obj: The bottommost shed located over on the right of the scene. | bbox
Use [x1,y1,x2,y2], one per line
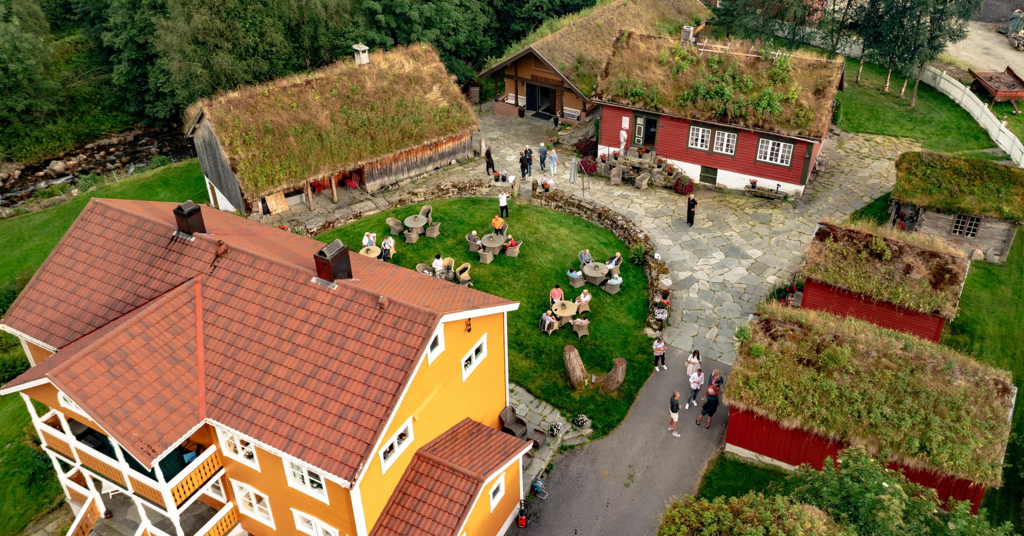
[723,309,1021,516]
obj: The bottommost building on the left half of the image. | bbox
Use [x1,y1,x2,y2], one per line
[0,196,533,536]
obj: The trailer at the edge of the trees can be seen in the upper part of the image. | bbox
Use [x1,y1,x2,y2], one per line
[969,64,1024,114]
